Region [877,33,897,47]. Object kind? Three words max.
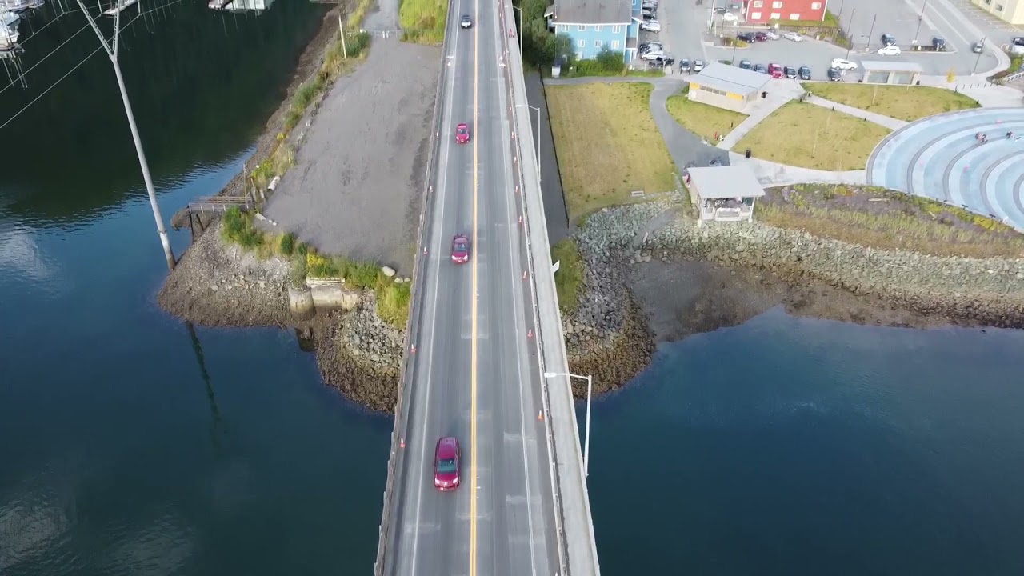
car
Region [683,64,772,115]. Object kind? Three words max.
building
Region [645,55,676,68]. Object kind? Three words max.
vehicle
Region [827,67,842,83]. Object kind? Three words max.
car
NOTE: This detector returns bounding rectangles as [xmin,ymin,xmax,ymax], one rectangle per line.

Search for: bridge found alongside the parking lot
[371,0,602,576]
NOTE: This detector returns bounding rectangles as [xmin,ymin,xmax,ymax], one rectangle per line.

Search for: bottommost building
[687,161,766,220]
